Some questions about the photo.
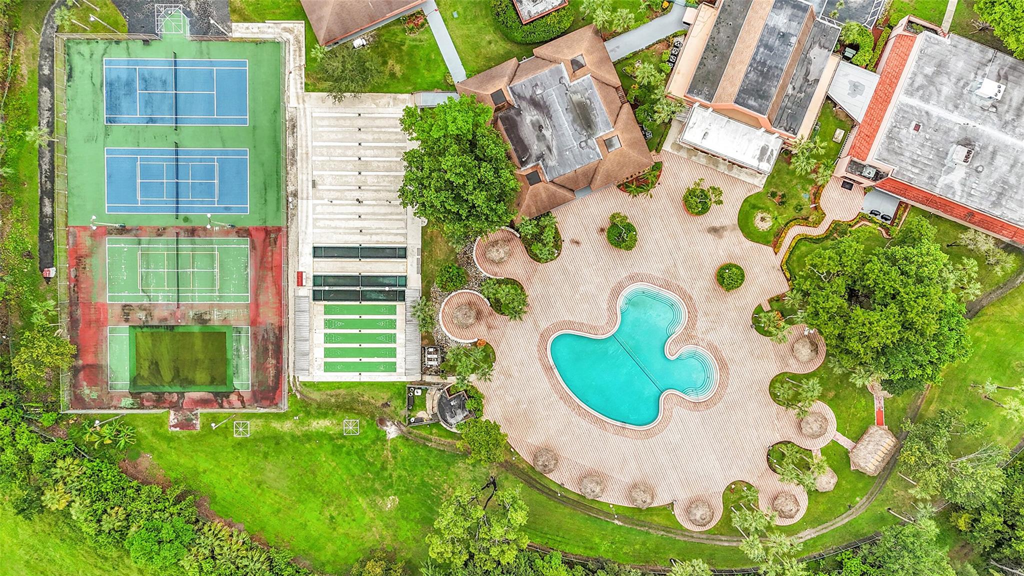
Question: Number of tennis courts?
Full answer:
In total, there are 4 tennis courts in the scene.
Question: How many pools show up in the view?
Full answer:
My tally gives 1 pool in this photo.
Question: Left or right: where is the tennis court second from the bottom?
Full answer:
It is on the left.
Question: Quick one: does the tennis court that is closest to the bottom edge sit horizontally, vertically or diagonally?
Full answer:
The tennis court that is closest to the bottom edge runs horizontally in the image.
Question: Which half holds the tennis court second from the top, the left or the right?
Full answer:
The tennis court second from the top sits on the left side.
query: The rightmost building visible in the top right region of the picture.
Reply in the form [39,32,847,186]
[832,15,1024,246]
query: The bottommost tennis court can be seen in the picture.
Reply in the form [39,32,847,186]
[108,326,251,392]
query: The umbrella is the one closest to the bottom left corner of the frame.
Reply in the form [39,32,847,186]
[451,303,478,329]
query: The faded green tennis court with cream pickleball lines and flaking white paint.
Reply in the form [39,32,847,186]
[106,232,250,309]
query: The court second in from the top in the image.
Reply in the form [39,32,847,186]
[105,141,249,220]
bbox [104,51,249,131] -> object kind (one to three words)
tennis court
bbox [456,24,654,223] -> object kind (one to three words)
building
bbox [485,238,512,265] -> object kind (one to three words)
umbrella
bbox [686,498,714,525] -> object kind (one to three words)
umbrella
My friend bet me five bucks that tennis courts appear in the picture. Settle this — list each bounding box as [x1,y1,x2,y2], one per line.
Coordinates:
[104,51,249,131]
[105,141,249,220]
[108,326,251,392]
[106,232,250,309]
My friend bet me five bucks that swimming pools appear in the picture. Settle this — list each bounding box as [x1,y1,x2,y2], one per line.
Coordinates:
[537,273,730,440]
